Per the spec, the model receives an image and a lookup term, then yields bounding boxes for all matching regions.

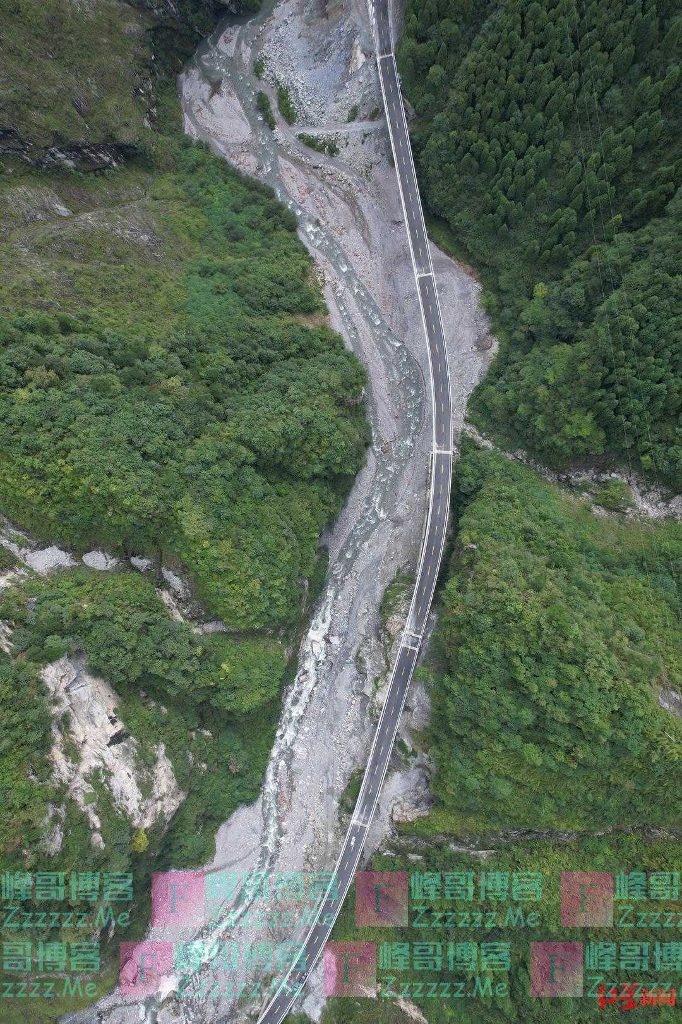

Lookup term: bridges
[258,52,453,1024]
